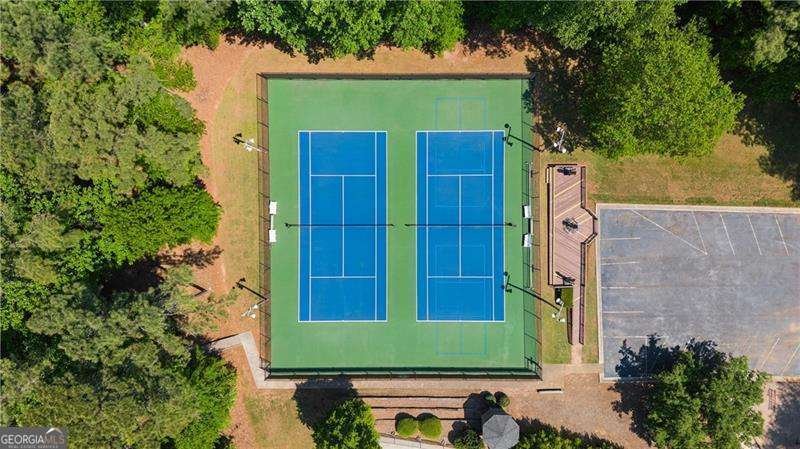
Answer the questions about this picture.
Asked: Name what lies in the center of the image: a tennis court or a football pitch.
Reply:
tennis court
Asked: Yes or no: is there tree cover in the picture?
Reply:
Yes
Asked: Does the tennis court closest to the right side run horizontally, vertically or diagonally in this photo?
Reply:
vertically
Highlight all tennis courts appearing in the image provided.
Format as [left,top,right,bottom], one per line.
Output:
[289,130,395,322]
[409,97,515,355]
